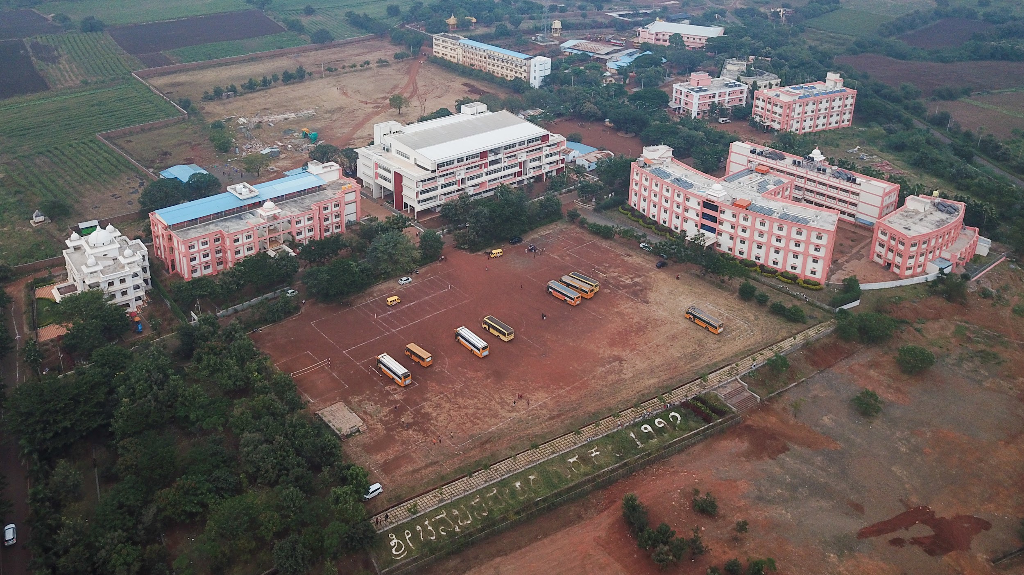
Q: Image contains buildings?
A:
Yes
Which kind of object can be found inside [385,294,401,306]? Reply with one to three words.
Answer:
vehicle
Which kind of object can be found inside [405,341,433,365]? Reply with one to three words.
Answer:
bus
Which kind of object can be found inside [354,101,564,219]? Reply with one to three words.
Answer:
building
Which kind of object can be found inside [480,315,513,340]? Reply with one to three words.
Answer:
bus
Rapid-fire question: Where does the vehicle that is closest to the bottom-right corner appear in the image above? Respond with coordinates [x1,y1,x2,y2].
[684,307,724,333]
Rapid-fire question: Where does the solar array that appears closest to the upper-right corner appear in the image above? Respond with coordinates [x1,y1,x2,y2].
[936,200,960,215]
